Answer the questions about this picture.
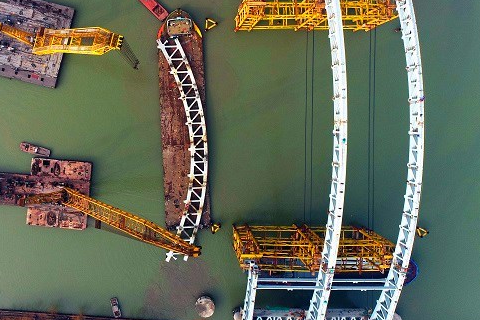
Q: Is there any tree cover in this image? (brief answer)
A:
No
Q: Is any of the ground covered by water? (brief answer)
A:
Yes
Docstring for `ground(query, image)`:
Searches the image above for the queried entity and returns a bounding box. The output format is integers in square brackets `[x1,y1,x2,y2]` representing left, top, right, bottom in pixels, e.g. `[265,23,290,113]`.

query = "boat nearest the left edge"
[19,141,51,156]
